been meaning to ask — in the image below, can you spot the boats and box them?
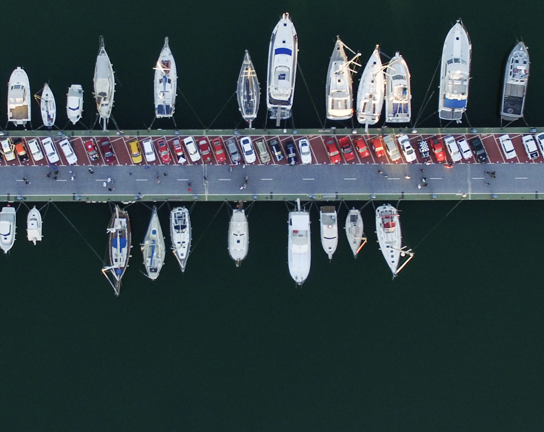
[138,201,165,278]
[354,46,398,132]
[27,204,45,243]
[150,36,204,128]
[209,49,260,129]
[415,17,472,127]
[55,202,137,296]
[0,205,19,256]
[65,85,85,127]
[34,83,59,131]
[191,199,252,270]
[384,49,412,126]
[285,199,313,286]
[167,201,194,272]
[500,42,532,126]
[315,201,341,263]
[266,9,323,128]
[372,201,442,276]
[324,35,361,127]
[343,201,367,258]
[91,35,118,130]
[6,63,33,129]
